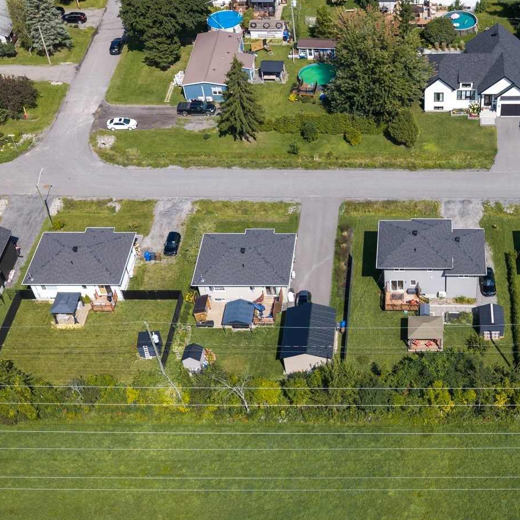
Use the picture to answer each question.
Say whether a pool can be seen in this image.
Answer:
Yes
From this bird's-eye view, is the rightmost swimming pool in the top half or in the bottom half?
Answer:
top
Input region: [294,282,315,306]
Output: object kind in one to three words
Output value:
car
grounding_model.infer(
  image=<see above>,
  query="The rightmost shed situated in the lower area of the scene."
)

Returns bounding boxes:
[478,303,505,337]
